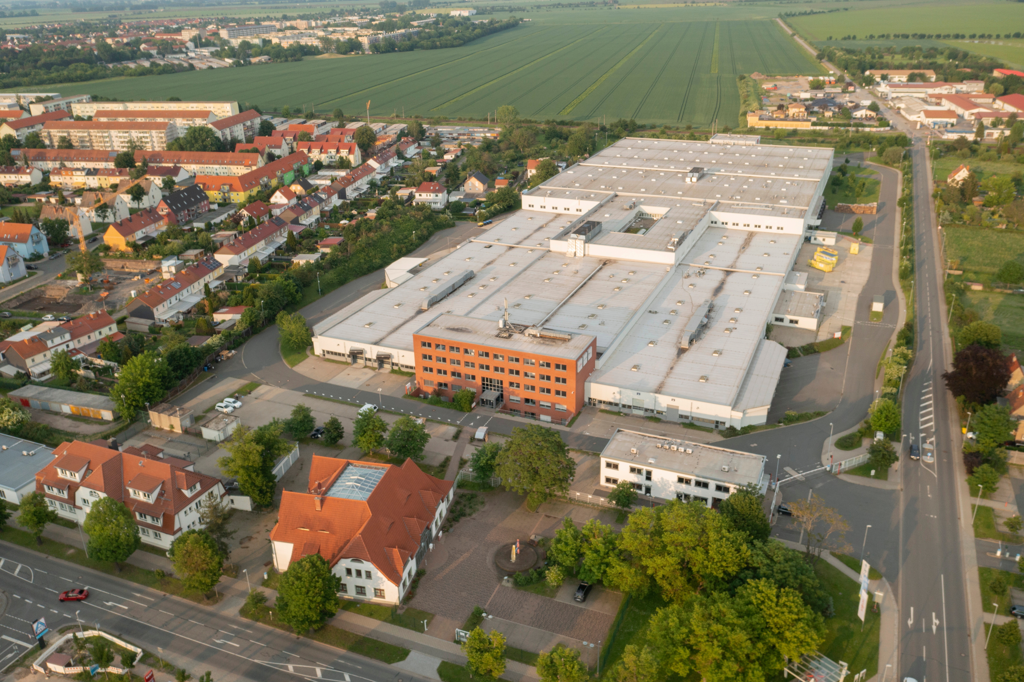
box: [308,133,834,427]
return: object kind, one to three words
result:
building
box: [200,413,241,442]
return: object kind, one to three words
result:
house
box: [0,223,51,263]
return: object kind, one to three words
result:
house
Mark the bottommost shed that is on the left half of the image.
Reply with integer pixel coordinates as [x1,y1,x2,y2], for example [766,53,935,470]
[42,644,75,673]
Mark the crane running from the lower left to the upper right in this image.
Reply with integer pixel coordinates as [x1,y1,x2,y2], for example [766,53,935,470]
[61,173,151,250]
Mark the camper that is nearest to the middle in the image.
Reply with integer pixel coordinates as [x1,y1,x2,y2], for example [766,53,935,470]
[475,424,489,440]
